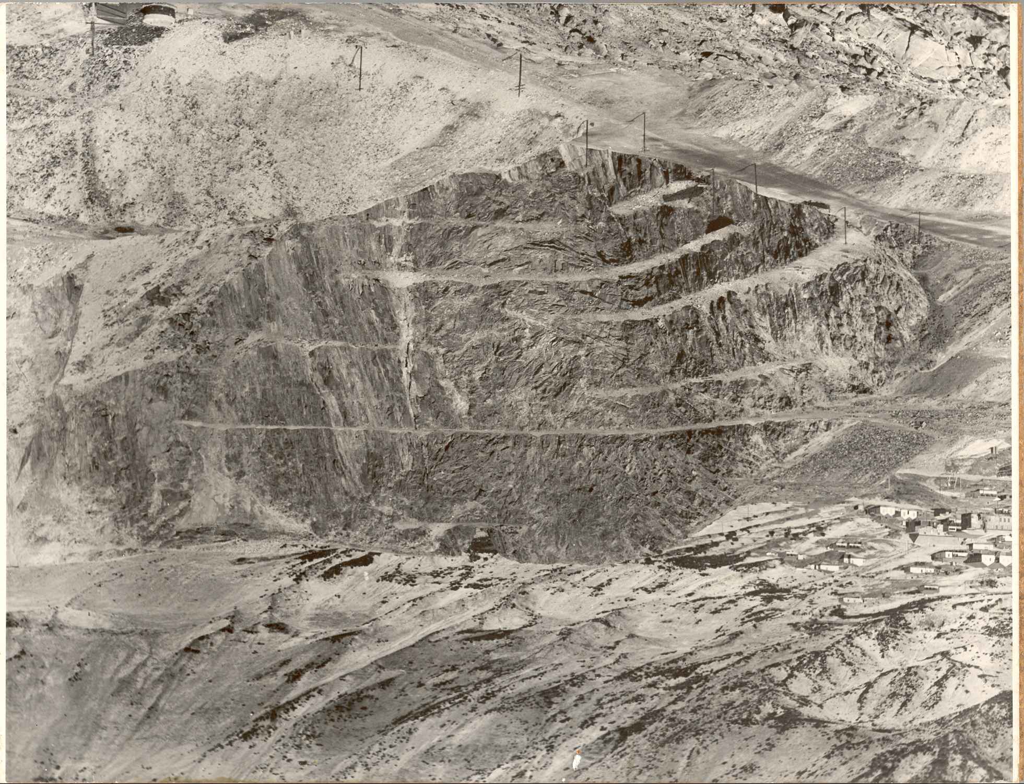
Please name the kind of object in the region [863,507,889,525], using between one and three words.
house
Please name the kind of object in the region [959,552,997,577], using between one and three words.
house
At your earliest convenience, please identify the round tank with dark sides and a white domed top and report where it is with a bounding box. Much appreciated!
[141,6,182,33]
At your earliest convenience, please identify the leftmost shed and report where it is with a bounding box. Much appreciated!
[95,1,136,35]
